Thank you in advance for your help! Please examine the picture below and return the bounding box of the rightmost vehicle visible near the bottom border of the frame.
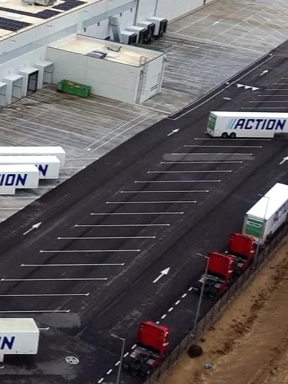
[116,327,168,382]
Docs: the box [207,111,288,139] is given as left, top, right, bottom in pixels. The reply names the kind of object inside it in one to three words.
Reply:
trailer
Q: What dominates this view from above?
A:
paved ground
